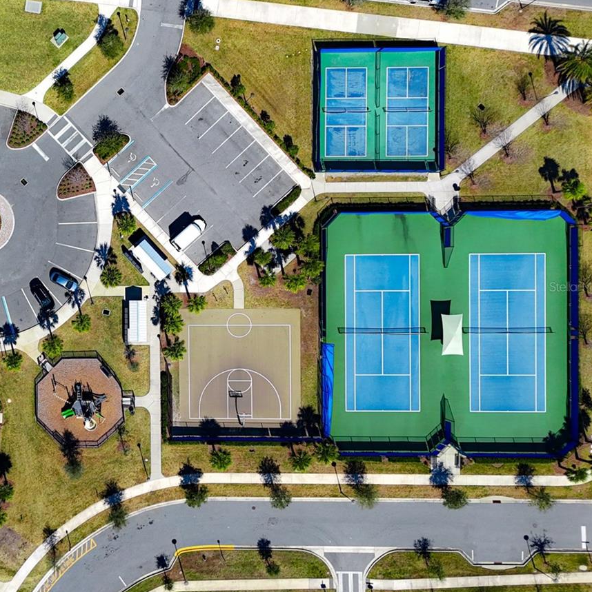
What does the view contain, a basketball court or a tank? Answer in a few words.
basketball court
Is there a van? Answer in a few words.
Yes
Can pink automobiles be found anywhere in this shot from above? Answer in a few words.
No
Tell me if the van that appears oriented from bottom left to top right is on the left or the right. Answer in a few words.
left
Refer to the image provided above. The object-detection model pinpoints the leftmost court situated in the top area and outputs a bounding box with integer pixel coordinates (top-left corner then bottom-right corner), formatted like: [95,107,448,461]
[316,51,376,168]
